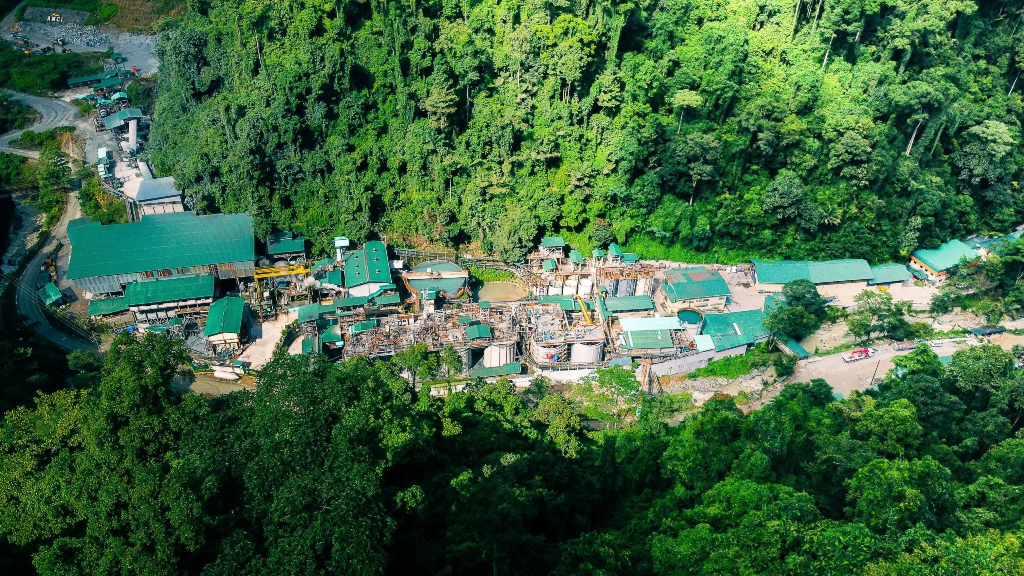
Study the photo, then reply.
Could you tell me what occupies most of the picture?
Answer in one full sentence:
What you mostly see from above here is trees.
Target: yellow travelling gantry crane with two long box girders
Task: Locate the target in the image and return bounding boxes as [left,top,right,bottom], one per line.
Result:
[254,260,317,299]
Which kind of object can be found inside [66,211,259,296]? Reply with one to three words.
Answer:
building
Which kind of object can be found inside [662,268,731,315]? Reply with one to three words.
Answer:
building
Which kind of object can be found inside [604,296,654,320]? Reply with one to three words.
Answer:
shed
